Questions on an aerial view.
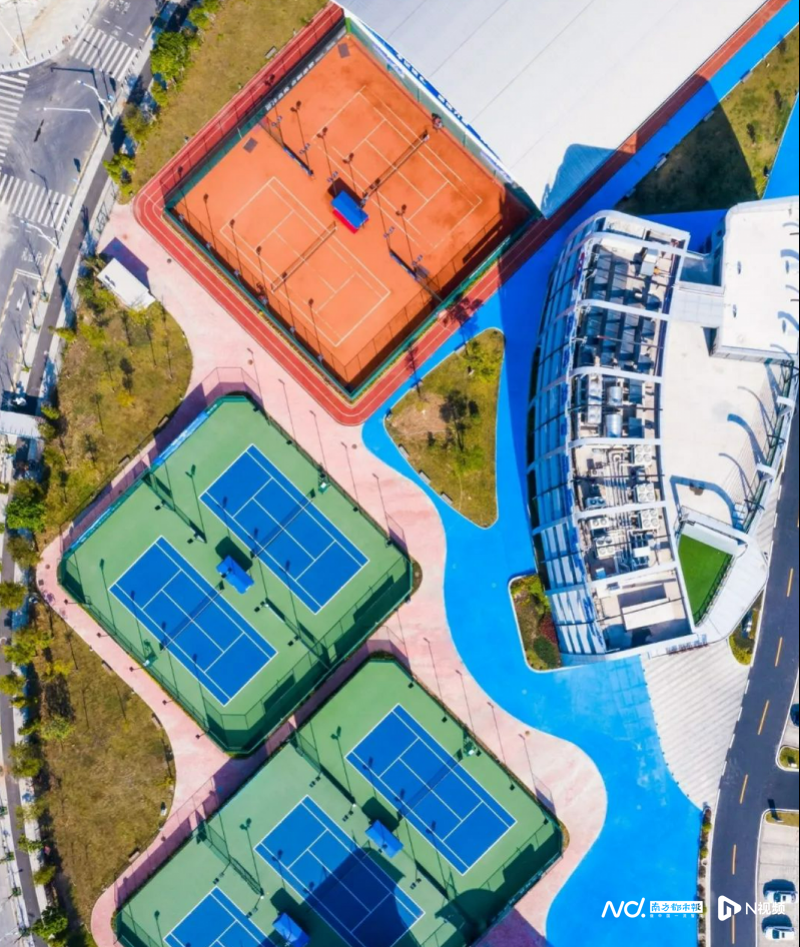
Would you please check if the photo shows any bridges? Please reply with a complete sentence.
No, there is no bridge in the image.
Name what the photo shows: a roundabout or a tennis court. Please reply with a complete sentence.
Looking from above, you can make out a tennis court.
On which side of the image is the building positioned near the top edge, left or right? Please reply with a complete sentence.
It is on the right.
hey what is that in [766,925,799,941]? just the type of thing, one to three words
car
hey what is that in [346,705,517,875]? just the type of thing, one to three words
tennis court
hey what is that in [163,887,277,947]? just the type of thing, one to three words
tennis court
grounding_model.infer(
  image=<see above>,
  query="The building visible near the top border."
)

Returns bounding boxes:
[338,0,770,221]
